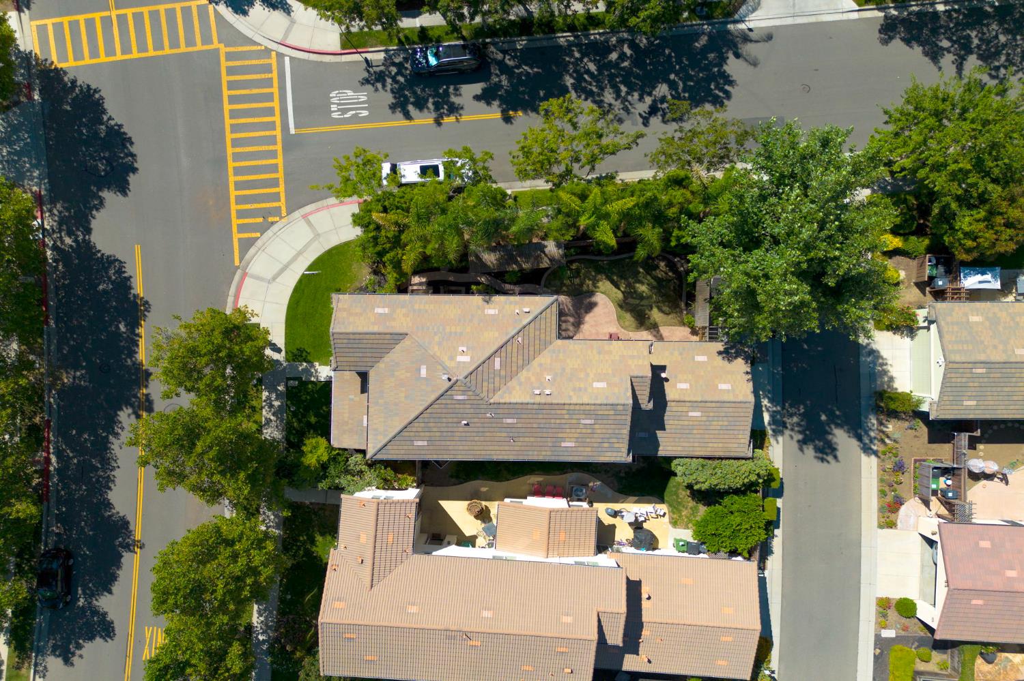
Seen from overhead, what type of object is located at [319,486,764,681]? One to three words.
house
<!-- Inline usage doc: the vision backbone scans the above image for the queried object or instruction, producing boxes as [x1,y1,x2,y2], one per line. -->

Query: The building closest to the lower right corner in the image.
[916,516,1024,646]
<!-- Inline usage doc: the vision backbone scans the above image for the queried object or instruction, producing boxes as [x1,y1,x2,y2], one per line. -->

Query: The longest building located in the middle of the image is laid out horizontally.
[327,290,758,464]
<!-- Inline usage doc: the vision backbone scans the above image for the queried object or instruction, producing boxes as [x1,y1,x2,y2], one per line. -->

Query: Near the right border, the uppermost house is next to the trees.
[911,300,1024,424]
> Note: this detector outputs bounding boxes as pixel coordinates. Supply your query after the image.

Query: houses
[319,486,764,681]
[327,290,758,464]
[916,516,1024,646]
[911,300,1024,424]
